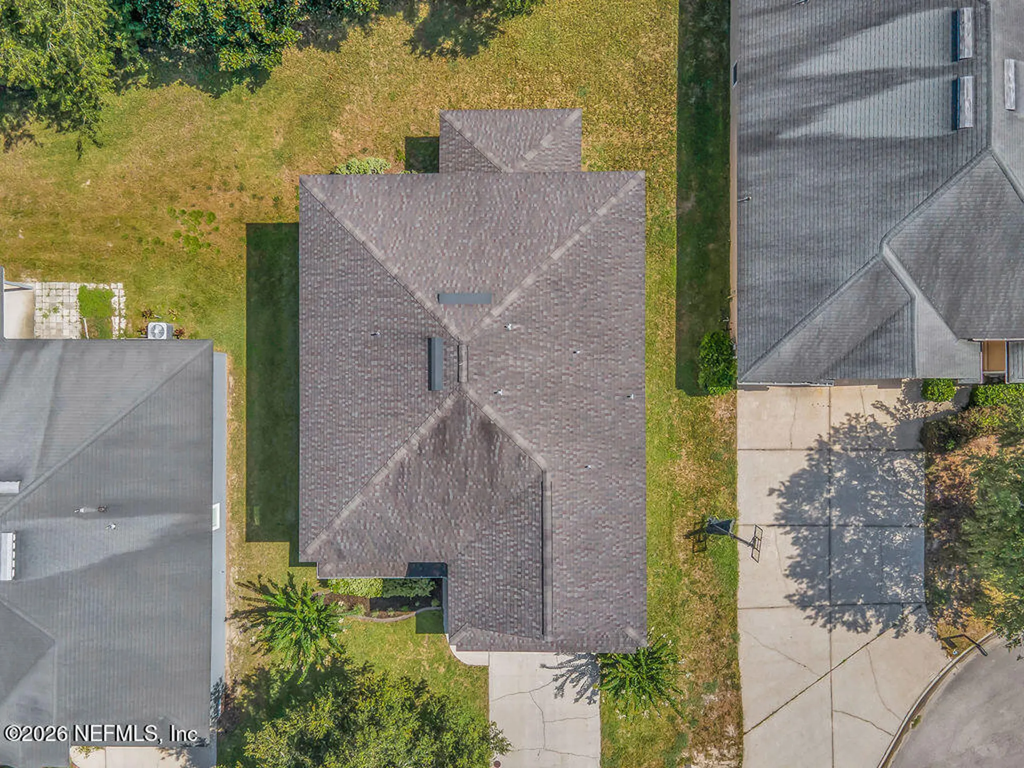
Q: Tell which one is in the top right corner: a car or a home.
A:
home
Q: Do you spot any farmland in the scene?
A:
No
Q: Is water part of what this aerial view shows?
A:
No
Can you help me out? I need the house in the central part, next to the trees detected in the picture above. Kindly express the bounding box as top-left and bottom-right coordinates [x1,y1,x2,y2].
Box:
[298,107,647,652]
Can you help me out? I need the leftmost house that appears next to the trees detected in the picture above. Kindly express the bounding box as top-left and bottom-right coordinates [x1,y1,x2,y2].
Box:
[0,265,227,768]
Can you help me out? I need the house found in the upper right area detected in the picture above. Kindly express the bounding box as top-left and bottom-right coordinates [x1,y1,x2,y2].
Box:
[731,0,1024,385]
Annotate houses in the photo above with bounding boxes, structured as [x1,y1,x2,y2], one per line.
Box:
[731,0,1024,385]
[0,265,227,768]
[298,107,647,652]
